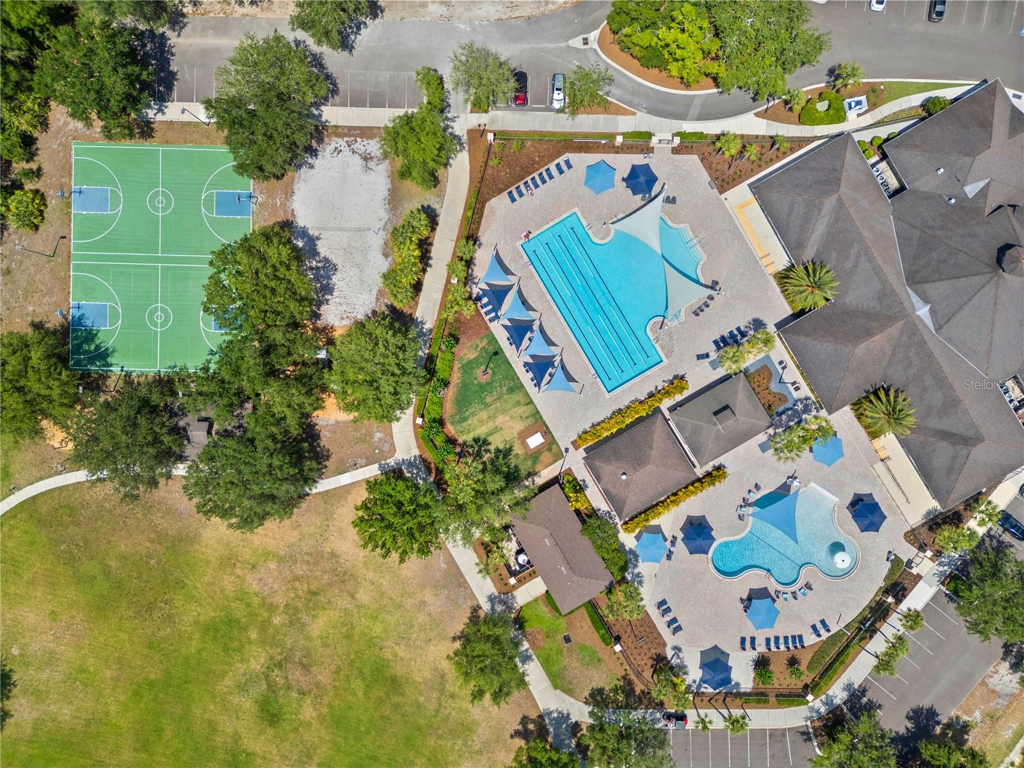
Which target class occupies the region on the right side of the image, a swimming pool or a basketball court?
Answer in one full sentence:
Looking on the right side of the image, you will find a swimming pool.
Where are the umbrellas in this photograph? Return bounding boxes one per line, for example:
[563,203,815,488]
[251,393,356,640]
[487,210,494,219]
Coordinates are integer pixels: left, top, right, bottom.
[584,162,615,195]
[744,596,779,628]
[700,655,730,689]
[625,166,657,195]
[681,523,715,553]
[850,501,885,531]
[813,436,841,466]
[634,532,667,562]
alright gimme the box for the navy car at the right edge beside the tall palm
[997,512,1024,539]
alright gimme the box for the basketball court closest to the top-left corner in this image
[71,141,252,261]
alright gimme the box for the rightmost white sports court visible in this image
[290,130,391,327]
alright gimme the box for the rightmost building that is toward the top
[750,77,1024,510]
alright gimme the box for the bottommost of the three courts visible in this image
[70,257,250,376]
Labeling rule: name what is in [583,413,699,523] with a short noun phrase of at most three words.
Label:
building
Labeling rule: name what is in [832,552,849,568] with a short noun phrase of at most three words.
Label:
fountain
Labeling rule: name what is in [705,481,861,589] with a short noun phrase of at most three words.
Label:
swimming pool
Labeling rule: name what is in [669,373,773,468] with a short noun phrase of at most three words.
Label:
building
